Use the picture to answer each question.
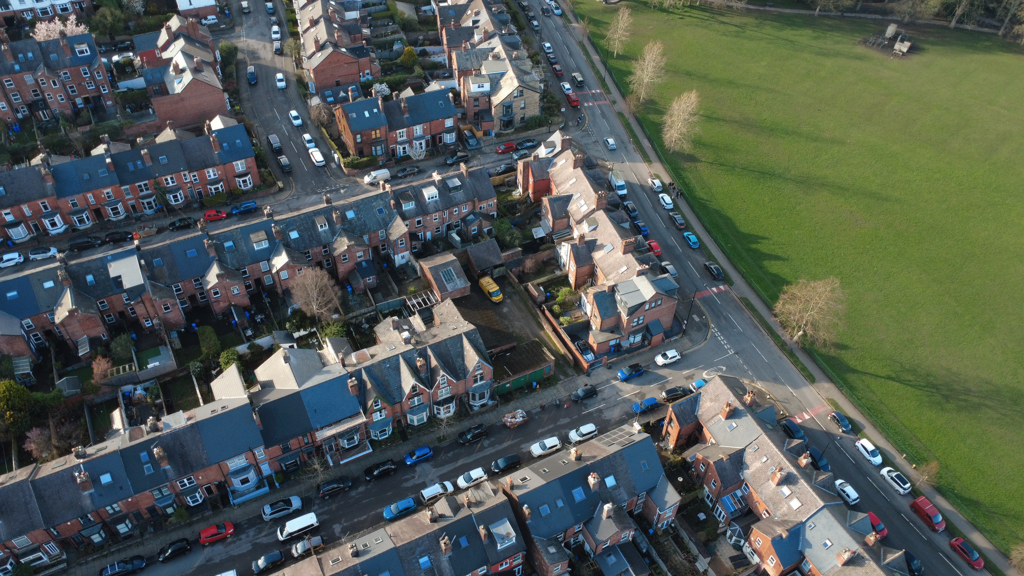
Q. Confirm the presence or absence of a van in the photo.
Yes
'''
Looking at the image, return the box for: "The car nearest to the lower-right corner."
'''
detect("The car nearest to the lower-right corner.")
[949,536,984,571]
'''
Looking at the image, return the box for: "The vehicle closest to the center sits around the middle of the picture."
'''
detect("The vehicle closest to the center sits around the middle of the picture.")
[479,275,502,305]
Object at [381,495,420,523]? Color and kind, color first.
blue car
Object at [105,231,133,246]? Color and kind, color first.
black car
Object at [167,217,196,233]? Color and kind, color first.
black car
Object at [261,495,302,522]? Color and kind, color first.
blue car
